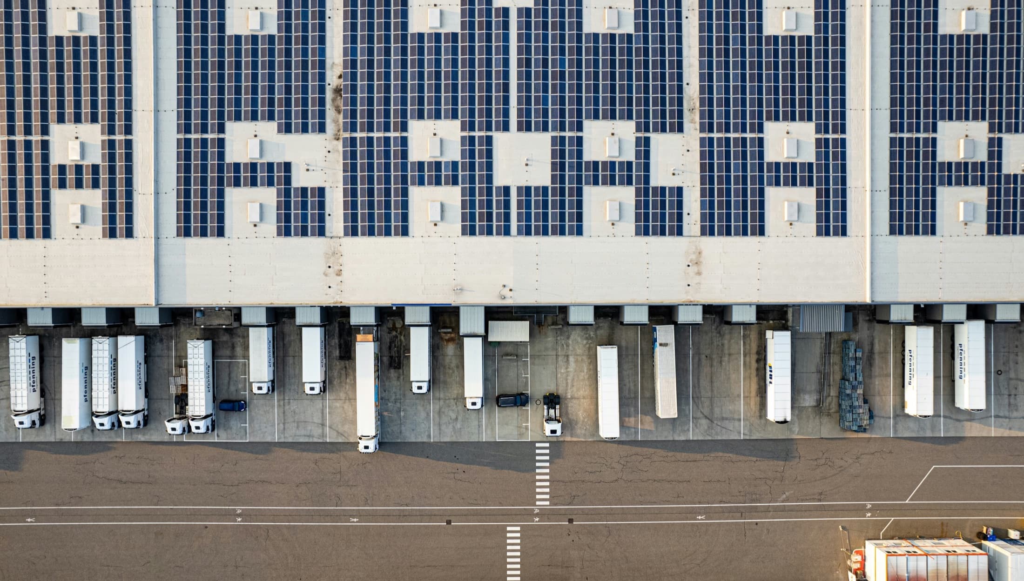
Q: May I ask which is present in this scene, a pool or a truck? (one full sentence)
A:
The one in the frame is a truck.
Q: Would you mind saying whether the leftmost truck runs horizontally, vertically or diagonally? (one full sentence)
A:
What the image shows is the leftmost truck lying vertically.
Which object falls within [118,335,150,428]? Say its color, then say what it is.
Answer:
white truck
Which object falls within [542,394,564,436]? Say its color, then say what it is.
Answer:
white vehicle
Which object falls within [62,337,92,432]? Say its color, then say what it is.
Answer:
white trailer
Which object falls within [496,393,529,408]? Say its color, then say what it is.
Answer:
black car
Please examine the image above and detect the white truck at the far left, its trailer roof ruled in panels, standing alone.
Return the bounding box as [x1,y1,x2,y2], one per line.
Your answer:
[8,335,47,428]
